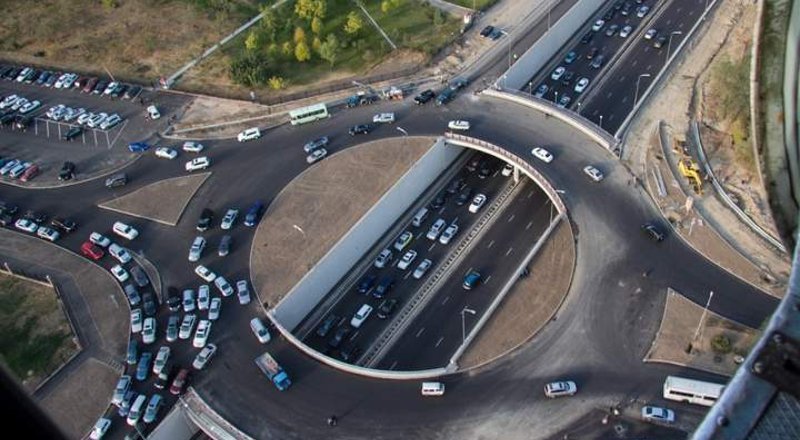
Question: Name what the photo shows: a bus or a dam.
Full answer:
It is a bus that can be seen here.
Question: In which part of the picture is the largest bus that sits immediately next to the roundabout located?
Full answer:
The largest bus that sits immediately next to the roundabout is located in the bottom right region of the scene.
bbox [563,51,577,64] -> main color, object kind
blue vehicle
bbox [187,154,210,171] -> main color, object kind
white car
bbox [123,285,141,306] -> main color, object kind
blue car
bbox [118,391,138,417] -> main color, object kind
blue car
